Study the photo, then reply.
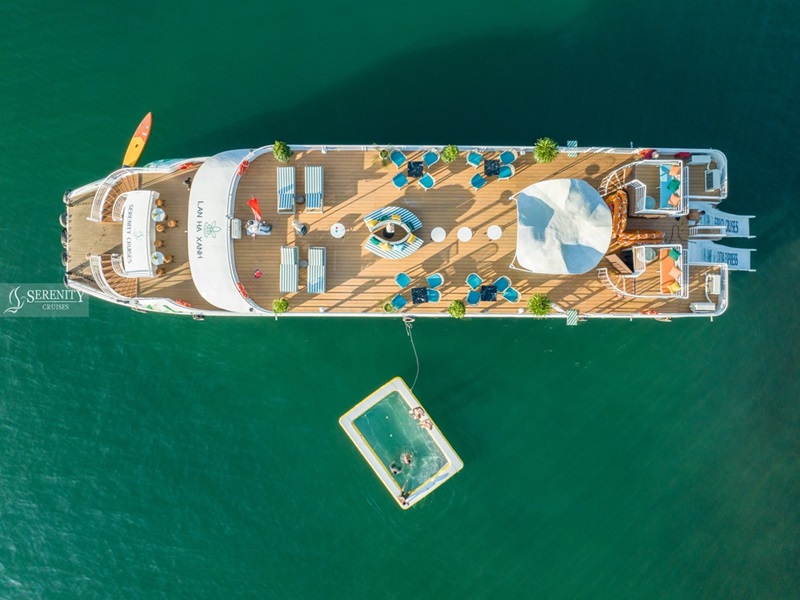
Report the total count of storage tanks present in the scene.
0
